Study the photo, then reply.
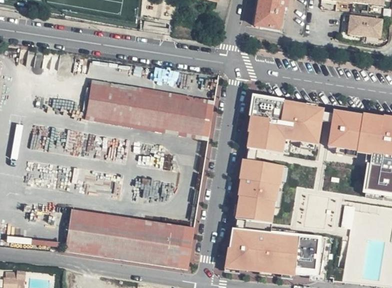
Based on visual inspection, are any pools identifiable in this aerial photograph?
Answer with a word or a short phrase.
Yes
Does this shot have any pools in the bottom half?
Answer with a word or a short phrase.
Yes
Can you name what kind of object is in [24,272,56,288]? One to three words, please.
swimming pool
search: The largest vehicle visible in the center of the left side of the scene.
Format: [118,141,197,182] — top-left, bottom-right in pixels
[9,122,21,164]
